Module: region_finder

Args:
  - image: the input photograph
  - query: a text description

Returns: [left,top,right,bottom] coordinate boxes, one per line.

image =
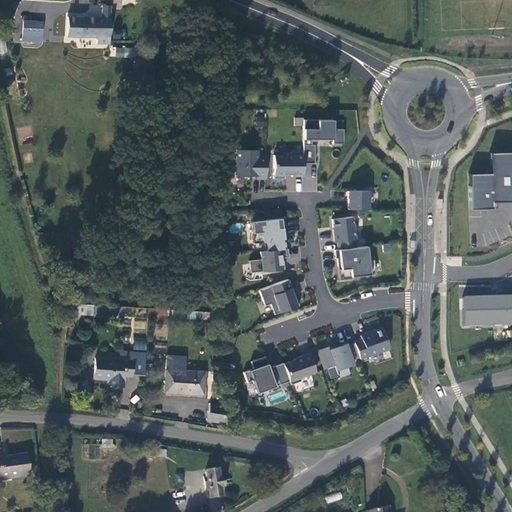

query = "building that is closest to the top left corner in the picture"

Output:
[22,20,46,43]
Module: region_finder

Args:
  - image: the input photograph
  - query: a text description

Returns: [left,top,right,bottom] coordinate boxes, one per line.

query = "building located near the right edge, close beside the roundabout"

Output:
[468,152,512,209]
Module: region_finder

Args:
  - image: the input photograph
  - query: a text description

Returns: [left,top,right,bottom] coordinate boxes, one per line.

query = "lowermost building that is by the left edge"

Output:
[0,448,34,482]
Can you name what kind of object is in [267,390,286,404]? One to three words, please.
swimming pool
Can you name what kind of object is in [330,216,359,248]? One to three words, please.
house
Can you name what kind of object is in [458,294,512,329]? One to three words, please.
building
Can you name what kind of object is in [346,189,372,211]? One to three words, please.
house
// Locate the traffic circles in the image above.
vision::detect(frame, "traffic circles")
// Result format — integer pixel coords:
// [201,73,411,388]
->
[381,64,476,158]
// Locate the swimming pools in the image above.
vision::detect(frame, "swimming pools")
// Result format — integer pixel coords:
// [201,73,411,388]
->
[267,390,286,404]
[230,222,244,234]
